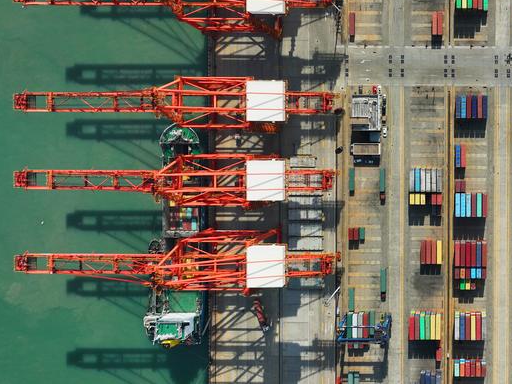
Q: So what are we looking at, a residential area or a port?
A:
port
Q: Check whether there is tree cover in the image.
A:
No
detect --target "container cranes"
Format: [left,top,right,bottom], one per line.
[12,215,336,294]
[338,310,392,344]
[12,69,336,140]
[12,0,338,47]
[12,143,336,209]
